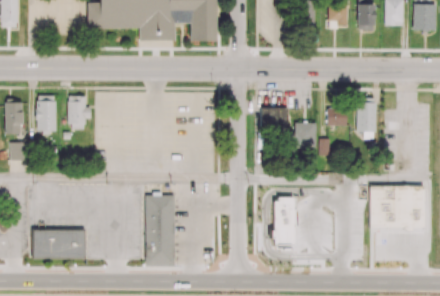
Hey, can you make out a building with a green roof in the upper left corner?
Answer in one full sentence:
No, no building with a green roof can be made out in the upper left corner.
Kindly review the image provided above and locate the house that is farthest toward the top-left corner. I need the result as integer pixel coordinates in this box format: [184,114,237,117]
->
[0,0,18,28]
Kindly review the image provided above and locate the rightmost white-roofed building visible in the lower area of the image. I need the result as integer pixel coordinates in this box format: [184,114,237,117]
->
[370,185,422,228]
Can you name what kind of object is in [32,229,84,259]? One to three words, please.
building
